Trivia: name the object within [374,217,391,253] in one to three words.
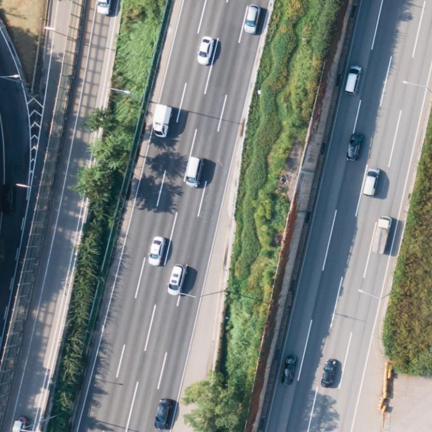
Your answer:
vehicle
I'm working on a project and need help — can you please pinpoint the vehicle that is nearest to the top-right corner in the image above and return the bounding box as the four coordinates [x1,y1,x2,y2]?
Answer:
[345,66,360,93]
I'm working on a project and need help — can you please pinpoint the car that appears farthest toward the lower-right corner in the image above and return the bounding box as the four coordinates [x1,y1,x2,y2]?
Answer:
[321,359,337,387]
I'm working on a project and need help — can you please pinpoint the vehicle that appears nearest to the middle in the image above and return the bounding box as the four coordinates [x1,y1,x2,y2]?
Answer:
[183,158,201,187]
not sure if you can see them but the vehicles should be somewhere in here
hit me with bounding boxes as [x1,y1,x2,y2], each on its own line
[149,102,170,137]
[12,418,27,432]
[155,399,171,427]
[243,3,260,31]
[374,217,391,253]
[347,134,362,161]
[148,238,165,265]
[345,66,360,93]
[183,158,201,187]
[169,265,186,293]
[363,170,380,197]
[198,36,214,64]
[321,359,337,387]
[95,0,111,15]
